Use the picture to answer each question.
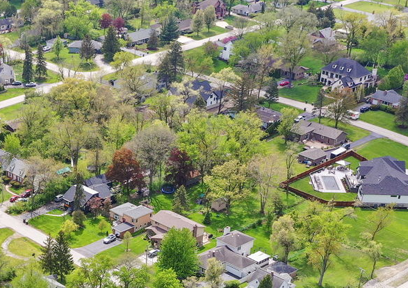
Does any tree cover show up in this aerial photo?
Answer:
Yes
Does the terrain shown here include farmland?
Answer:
No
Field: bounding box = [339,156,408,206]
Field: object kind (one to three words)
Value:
house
